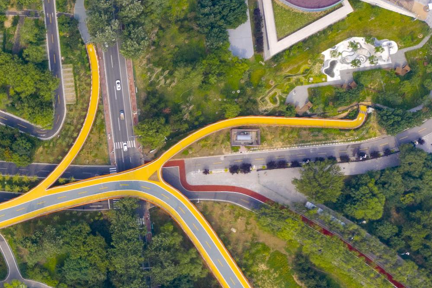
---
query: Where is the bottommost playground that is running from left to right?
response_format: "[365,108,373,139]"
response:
[321,37,398,82]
